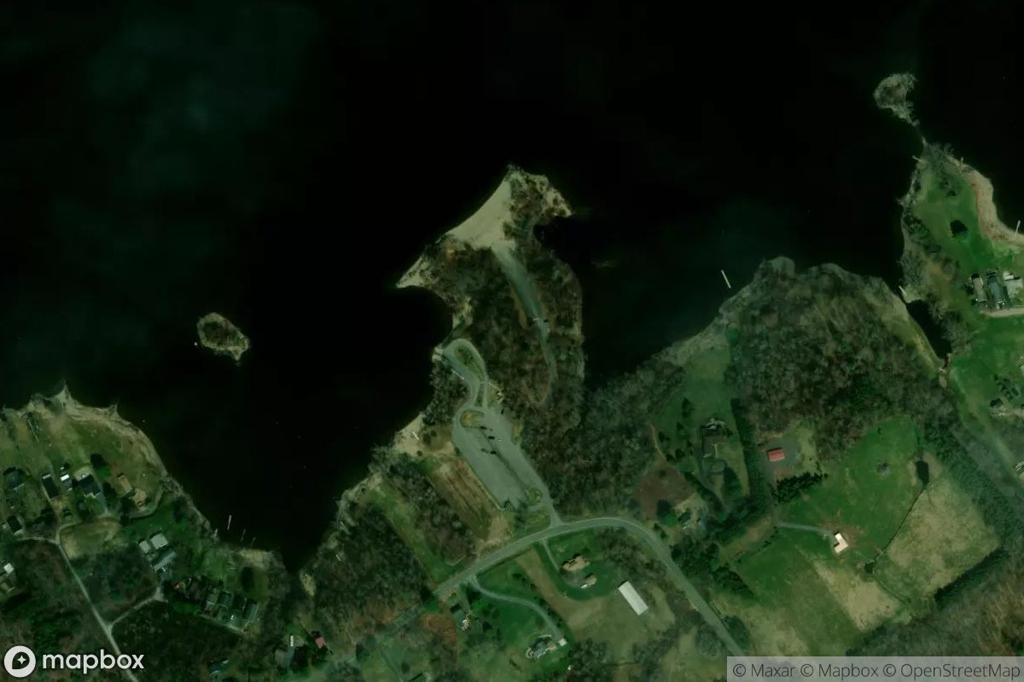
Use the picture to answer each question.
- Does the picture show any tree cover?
Yes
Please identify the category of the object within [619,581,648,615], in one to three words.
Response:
barn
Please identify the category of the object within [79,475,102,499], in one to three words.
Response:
house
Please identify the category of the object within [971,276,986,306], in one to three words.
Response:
house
